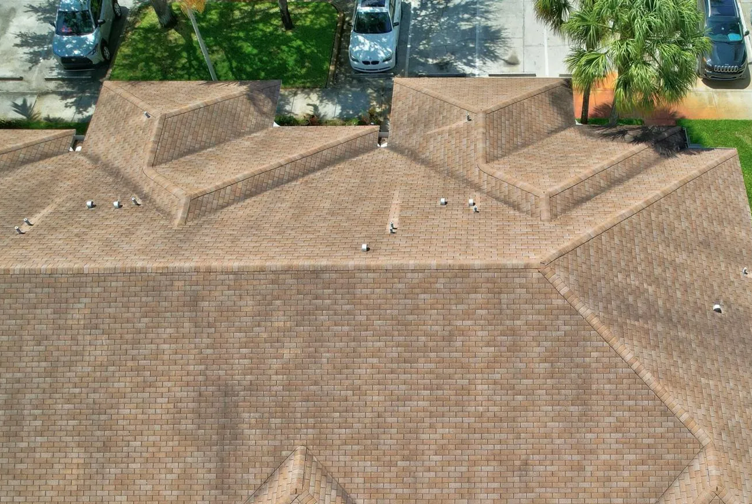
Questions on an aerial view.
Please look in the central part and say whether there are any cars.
No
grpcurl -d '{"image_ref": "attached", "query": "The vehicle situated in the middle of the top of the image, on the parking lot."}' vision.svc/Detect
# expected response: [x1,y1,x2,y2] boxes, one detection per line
[345,0,406,68]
